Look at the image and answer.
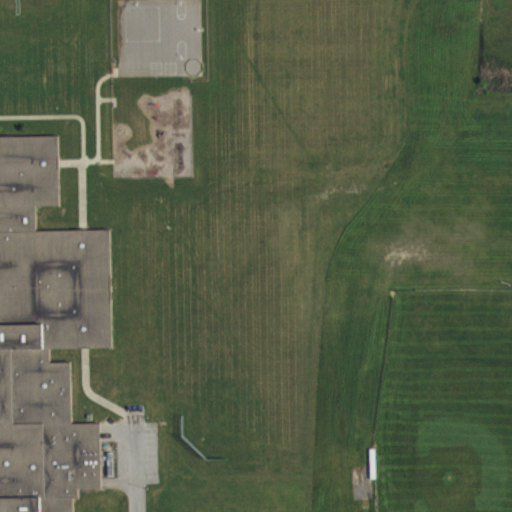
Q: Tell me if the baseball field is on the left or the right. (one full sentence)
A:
The baseball field is on the right side of the image.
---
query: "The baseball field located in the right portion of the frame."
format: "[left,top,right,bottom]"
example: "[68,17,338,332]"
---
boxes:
[374,292,512,512]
